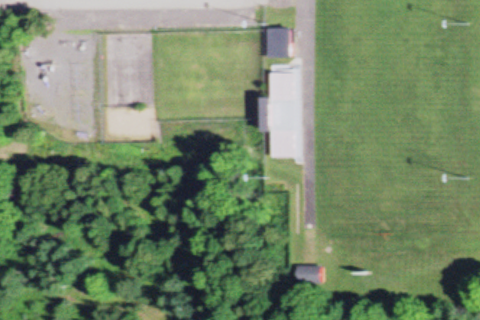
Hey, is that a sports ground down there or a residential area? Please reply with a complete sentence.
It's a sports ground.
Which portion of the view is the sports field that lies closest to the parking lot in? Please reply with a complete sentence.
The sports field that lies closest to the parking lot is in the top part of the image.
